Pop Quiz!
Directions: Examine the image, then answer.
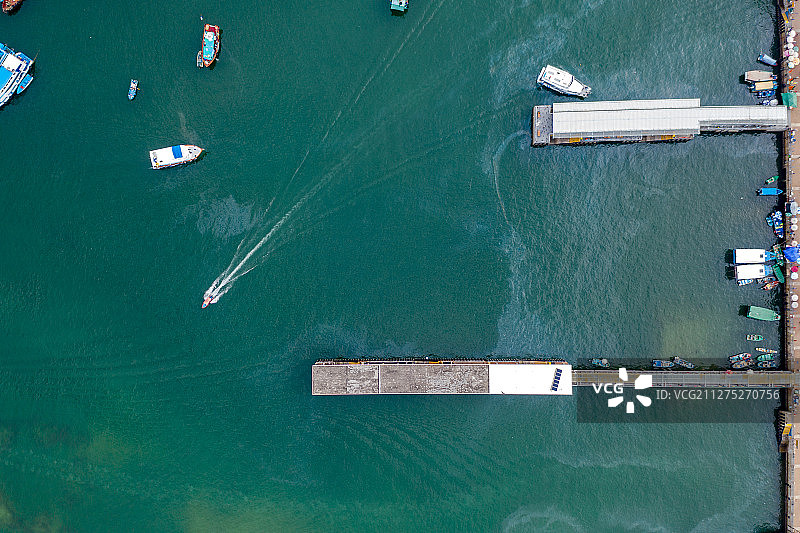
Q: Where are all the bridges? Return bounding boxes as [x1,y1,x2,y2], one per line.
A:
[572,370,787,388]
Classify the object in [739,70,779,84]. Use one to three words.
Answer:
boat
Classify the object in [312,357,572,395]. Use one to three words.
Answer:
pier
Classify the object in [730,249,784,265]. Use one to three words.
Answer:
vessel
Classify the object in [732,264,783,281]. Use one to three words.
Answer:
vessel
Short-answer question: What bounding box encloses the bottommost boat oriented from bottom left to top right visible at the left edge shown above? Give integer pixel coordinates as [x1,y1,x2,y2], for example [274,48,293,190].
[17,76,34,95]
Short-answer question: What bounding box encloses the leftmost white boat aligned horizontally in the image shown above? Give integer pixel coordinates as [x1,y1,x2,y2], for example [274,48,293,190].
[148,142,206,169]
